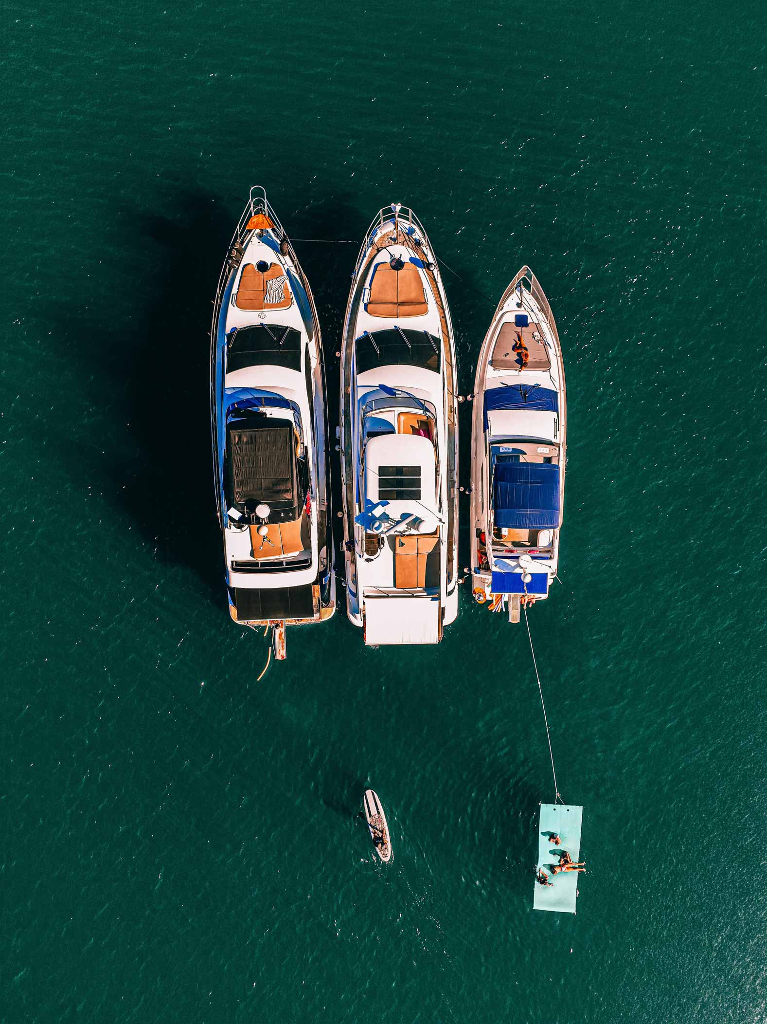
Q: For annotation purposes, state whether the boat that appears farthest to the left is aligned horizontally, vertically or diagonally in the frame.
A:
vertically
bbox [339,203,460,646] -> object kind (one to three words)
boat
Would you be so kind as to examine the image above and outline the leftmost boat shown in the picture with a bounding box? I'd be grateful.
[209,185,337,660]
